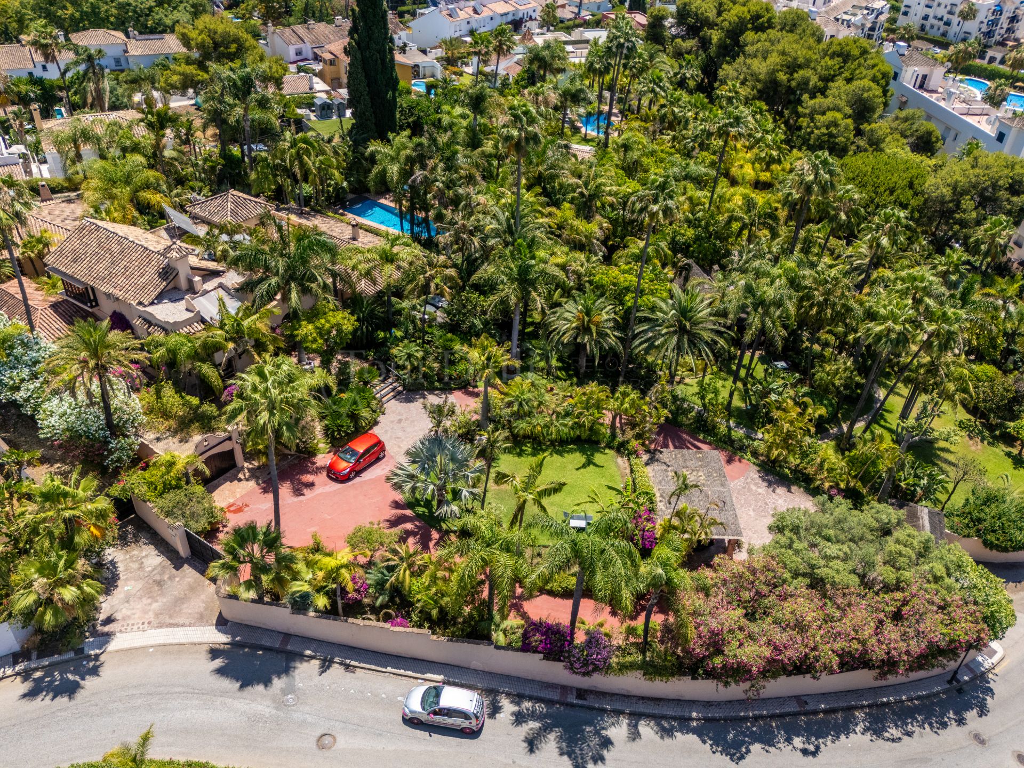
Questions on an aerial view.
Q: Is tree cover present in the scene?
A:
Yes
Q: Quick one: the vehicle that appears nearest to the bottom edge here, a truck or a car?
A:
car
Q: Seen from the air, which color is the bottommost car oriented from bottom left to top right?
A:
red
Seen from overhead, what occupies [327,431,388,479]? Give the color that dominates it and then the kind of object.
red car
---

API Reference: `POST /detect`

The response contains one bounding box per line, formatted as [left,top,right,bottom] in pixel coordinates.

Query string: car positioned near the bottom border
[400,679,488,735]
